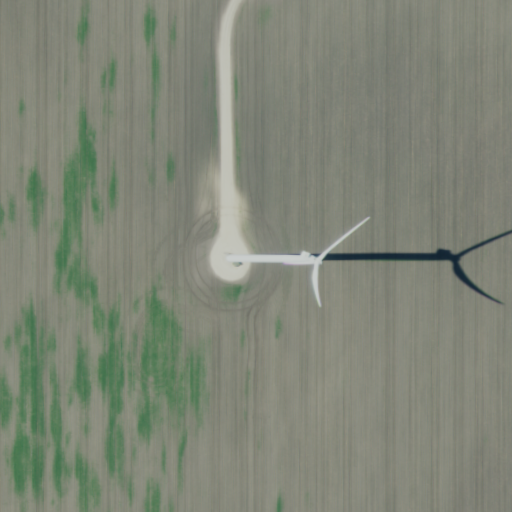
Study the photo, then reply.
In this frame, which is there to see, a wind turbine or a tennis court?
wind turbine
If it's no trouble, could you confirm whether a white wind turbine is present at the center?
Yes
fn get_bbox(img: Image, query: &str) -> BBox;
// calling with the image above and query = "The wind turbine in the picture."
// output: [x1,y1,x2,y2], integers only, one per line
[224,216,369,308]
